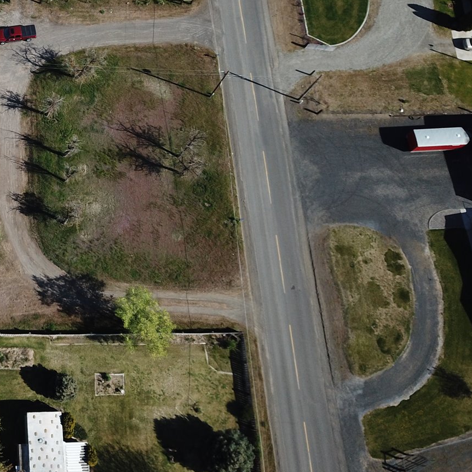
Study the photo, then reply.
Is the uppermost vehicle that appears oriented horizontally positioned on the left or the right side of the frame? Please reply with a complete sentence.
The uppermost vehicle that appears oriented horizontally appears in the left half of the scene.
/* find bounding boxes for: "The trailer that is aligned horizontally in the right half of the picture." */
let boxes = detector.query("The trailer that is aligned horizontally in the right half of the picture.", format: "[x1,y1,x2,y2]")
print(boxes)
[406,127,471,152]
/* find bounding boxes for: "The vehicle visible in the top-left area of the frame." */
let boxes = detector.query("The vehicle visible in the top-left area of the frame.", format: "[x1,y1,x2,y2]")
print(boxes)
[0,25,37,45]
